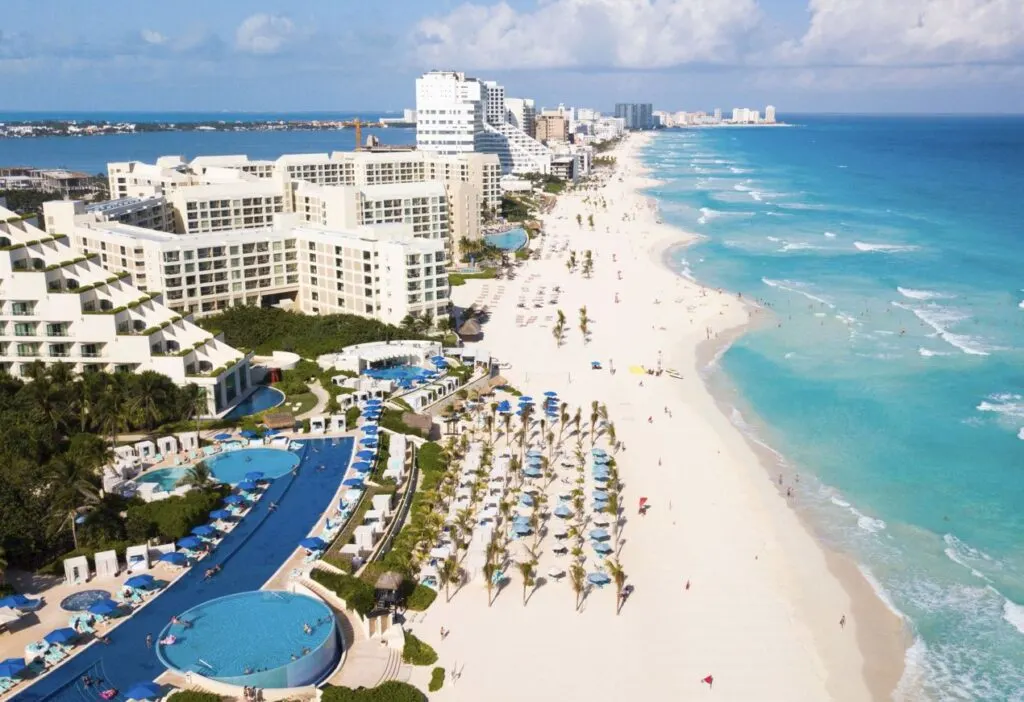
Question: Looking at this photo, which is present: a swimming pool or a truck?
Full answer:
This aerial view contains a swimming pool.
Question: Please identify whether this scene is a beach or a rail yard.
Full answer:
What you see here is a beach.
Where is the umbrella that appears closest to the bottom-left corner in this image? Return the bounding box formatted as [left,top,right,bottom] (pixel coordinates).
[0,660,30,693]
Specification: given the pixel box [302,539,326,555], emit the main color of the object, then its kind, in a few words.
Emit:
blue umbrella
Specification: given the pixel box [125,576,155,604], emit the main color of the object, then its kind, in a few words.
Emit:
blue umbrella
